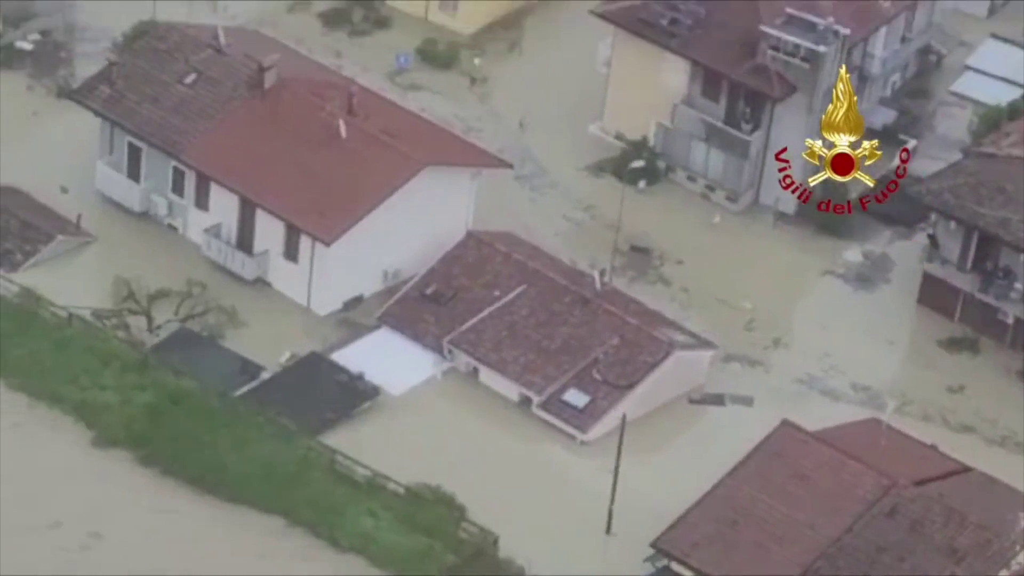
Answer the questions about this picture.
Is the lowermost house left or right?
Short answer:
right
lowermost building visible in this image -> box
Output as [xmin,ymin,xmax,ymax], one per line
[646,411,1024,576]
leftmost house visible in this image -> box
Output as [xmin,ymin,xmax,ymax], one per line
[0,180,97,282]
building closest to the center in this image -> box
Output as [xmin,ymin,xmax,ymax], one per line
[377,231,718,447]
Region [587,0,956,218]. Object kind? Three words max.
house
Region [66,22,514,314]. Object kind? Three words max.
house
